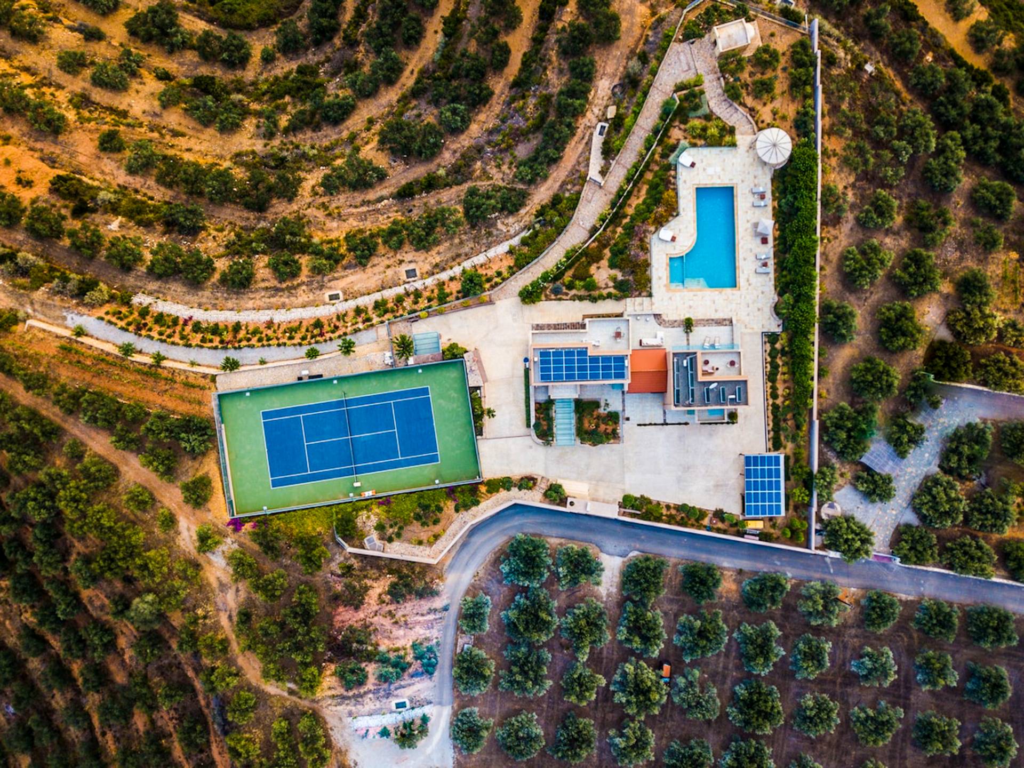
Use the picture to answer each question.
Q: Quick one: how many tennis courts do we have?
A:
1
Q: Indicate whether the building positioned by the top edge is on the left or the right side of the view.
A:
right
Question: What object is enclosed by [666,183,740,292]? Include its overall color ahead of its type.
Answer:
blue swimming pool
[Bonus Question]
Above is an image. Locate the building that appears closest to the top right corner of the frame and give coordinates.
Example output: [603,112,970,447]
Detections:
[707,18,753,63]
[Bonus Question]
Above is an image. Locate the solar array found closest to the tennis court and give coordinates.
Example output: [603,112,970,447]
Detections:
[539,349,626,381]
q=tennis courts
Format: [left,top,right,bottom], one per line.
[219,361,480,514]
